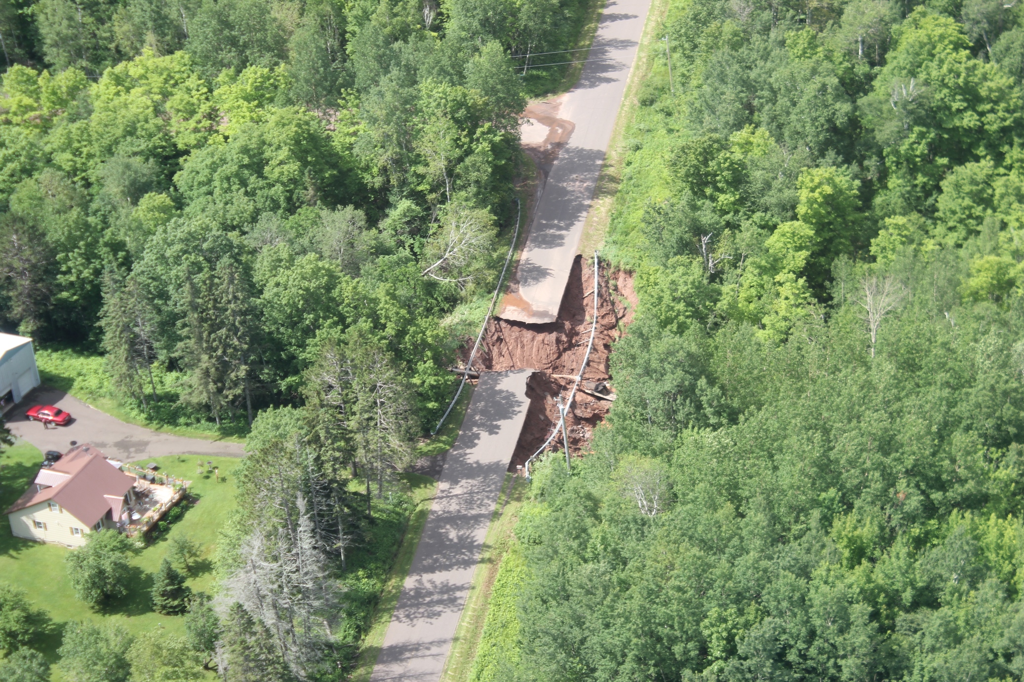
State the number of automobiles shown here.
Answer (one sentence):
The photo contains 2 automobiles.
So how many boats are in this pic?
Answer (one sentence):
I count no boats.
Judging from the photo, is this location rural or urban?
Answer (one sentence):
The land in this view is best described as rural.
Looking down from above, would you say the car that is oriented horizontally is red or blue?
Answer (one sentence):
The car that is oriented horizontally is red.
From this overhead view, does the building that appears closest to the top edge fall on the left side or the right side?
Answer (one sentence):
It is on the left.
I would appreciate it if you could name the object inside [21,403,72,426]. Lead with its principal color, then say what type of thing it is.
red car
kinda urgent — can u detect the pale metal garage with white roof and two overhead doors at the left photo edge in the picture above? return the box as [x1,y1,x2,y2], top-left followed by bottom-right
[0,331,52,434]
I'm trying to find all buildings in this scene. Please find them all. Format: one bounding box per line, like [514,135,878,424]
[6,441,140,554]
[0,331,52,434]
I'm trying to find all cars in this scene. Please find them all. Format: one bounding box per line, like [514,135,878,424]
[37,444,72,476]
[21,403,72,426]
